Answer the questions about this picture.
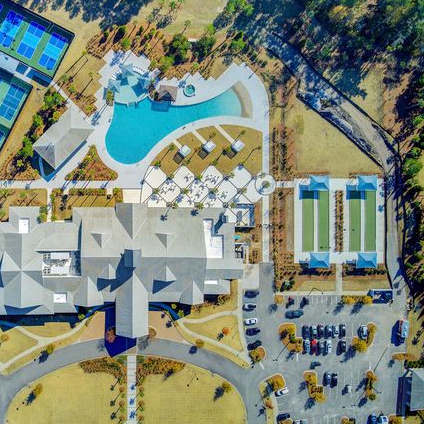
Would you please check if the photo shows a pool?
Yes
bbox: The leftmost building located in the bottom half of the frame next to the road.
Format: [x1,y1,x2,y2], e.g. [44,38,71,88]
[0,202,243,339]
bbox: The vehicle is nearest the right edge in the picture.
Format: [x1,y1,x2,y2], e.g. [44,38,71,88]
[395,318,408,339]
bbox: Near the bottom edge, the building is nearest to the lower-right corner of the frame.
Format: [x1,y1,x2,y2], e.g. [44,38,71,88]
[406,368,424,410]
